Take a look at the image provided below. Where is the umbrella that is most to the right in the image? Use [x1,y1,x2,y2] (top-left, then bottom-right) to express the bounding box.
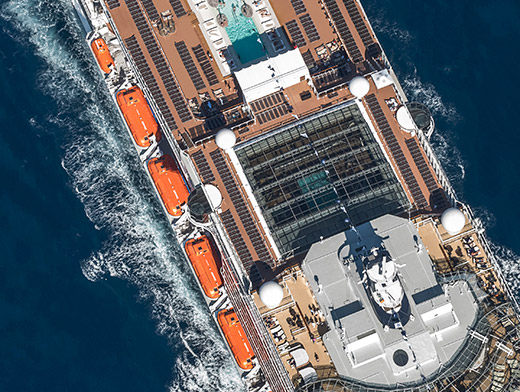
[240,5,255,19]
